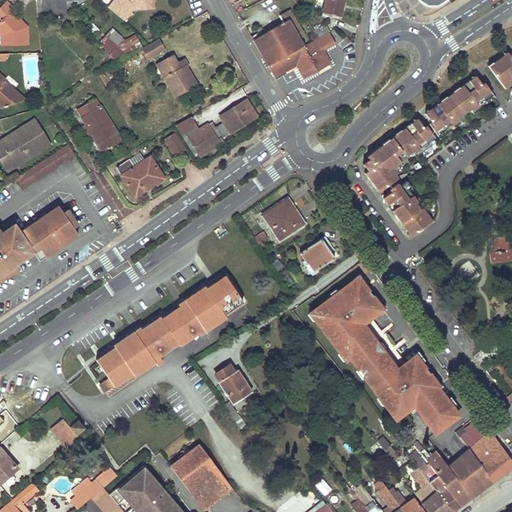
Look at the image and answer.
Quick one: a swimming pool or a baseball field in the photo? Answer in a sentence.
Of the two, only a swimming pool appears.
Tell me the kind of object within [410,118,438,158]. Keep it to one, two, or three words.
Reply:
house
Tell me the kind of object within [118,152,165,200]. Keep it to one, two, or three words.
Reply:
house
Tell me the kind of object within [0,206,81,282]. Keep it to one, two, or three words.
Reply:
building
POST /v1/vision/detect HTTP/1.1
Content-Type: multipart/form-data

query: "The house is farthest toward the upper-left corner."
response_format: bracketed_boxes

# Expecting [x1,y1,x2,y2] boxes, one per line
[0,1,30,46]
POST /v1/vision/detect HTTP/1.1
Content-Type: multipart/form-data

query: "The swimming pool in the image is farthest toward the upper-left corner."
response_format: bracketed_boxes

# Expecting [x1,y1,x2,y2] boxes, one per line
[22,52,40,90]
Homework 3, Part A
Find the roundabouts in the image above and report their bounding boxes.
[263,12,452,180]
